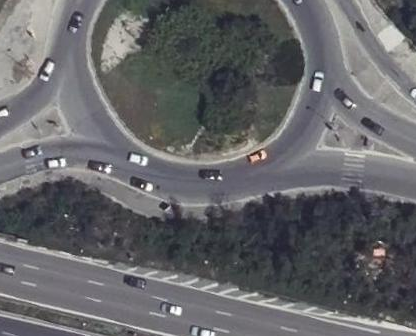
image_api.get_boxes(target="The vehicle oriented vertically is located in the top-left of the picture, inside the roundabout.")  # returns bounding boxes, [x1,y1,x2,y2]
[70,12,82,34]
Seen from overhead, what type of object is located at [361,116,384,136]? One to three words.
car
